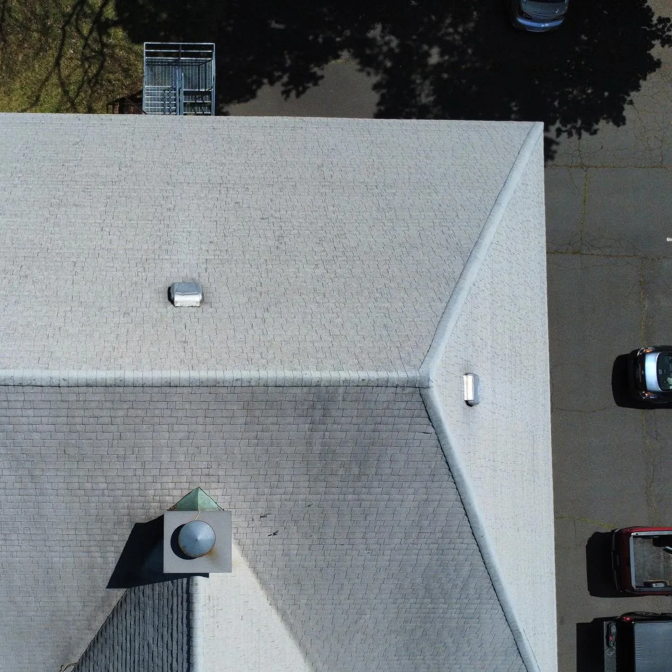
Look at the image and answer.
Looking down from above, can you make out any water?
No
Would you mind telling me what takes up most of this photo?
buildings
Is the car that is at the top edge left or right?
right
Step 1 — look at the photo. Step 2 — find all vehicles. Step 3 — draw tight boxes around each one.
[627,347,672,403]
[507,0,570,36]
[603,613,672,672]
[610,531,672,592]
